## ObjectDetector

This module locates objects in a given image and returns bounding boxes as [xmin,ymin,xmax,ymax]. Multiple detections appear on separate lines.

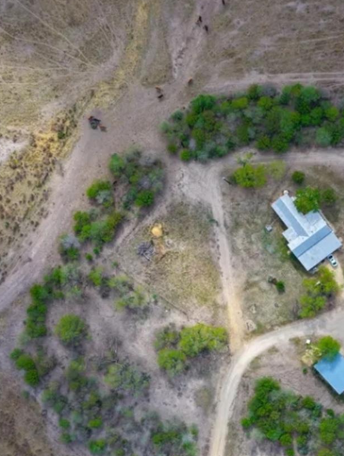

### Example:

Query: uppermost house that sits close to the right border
[272,195,343,273]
